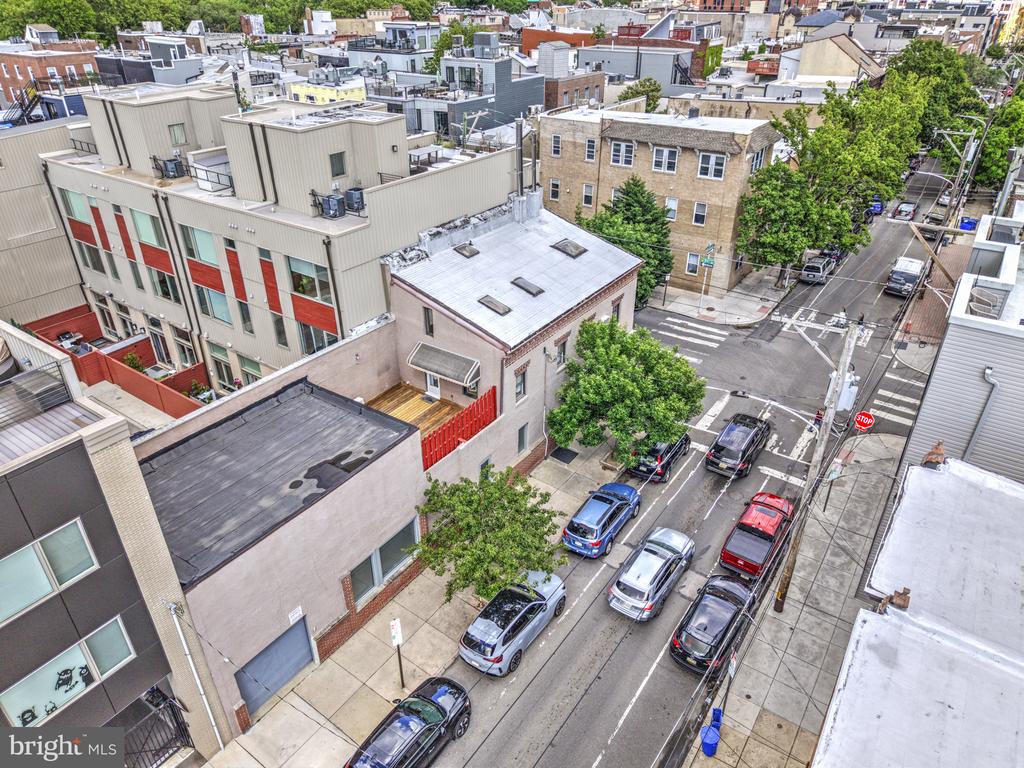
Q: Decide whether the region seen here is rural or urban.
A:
urban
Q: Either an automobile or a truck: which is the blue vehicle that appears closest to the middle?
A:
automobile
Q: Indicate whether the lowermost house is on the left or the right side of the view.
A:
right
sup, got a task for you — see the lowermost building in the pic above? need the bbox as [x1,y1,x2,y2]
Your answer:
[800,604,1024,768]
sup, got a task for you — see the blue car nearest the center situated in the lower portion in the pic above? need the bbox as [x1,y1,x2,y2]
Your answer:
[560,480,642,558]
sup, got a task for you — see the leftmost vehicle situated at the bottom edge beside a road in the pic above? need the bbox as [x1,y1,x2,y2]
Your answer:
[335,678,468,768]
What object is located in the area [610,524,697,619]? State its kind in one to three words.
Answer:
car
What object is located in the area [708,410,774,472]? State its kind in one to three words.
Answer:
car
